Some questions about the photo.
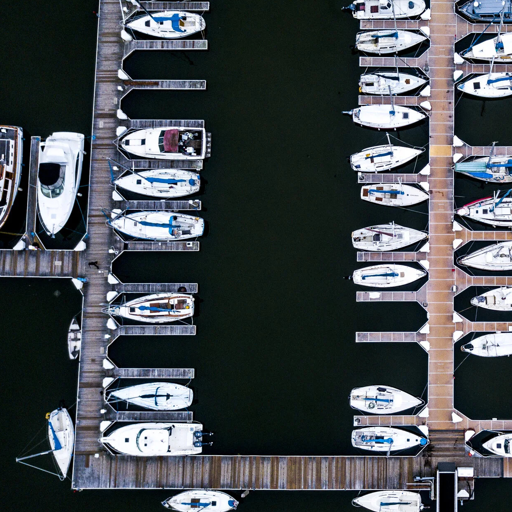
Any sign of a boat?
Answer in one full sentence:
Yes, a boat is visible in the scene.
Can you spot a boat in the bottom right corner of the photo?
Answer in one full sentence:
Yes, you'll find a boat in the bottom right corner of the photo.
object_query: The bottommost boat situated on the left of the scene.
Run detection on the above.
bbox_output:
[163,490,240,512]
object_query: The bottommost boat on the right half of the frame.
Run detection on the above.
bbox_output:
[350,490,433,512]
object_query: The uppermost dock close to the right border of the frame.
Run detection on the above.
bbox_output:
[353,0,512,437]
